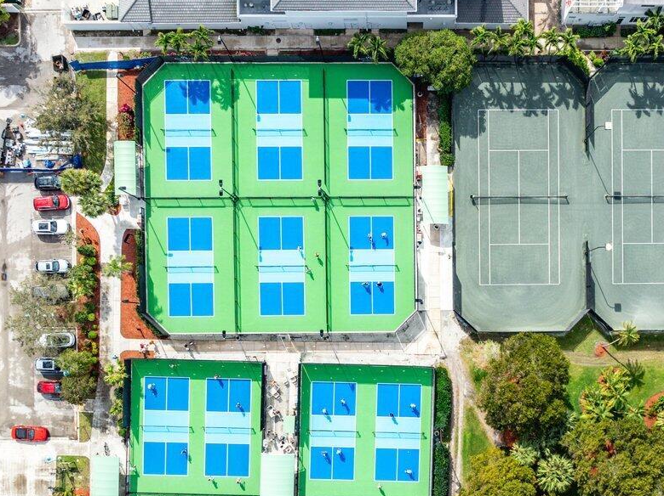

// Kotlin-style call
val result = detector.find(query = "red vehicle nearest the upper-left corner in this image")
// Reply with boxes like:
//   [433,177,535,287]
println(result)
[34,194,71,211]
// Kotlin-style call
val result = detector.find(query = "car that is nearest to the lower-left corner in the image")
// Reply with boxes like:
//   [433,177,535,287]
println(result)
[12,425,51,442]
